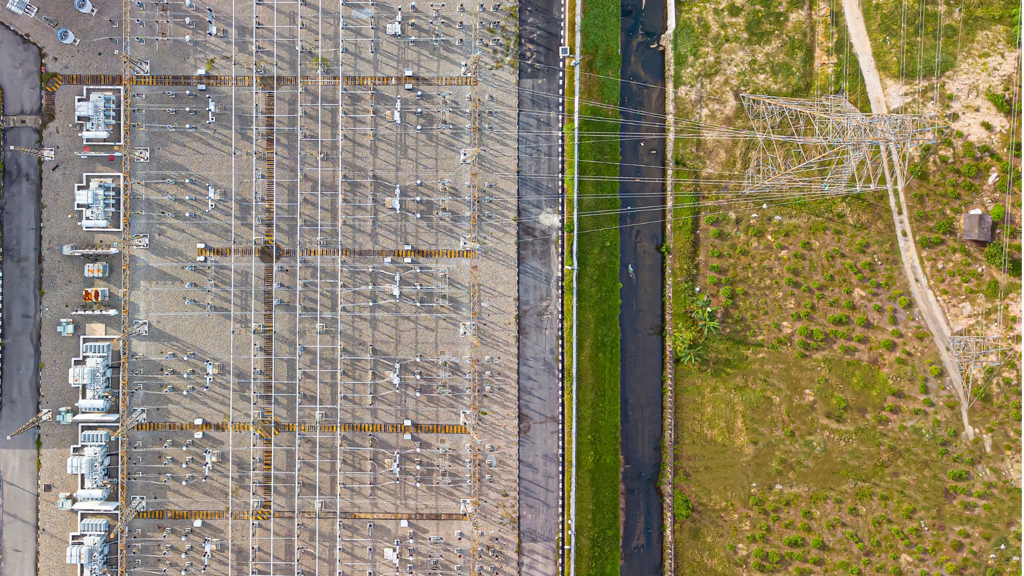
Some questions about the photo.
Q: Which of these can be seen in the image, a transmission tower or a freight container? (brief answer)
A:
transmission tower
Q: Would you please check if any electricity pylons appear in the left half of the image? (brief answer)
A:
No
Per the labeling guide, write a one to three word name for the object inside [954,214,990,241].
shed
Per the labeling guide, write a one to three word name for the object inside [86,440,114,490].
storage tank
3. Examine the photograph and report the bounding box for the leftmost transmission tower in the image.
[737,91,956,193]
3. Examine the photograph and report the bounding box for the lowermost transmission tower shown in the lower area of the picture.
[948,333,1014,408]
